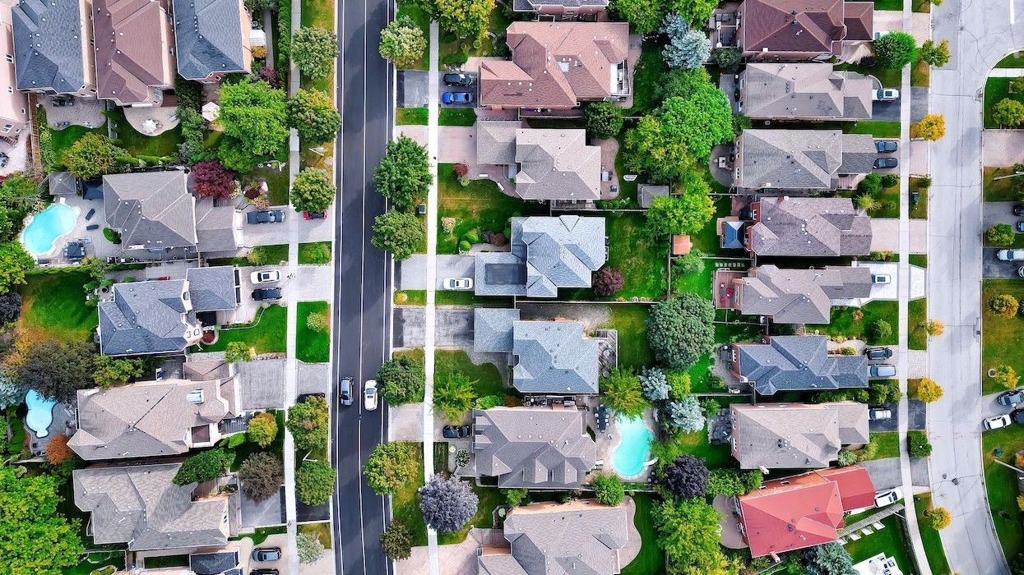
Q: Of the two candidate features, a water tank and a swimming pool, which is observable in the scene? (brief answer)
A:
swimming pool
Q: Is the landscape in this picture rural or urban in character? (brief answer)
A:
urban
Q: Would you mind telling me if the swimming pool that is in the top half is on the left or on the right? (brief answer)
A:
left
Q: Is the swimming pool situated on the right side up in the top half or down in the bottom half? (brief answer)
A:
bottom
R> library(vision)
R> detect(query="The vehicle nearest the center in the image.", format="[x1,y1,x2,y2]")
[444,277,473,291]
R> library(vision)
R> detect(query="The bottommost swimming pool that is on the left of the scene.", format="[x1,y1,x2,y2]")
[24,390,55,438]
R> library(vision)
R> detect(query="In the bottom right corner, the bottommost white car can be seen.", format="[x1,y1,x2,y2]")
[874,488,902,506]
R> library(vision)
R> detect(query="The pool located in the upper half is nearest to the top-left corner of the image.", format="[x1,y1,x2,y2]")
[19,199,80,256]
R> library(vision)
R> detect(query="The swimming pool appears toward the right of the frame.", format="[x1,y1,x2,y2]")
[611,411,655,480]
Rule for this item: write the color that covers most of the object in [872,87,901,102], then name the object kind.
white vehicle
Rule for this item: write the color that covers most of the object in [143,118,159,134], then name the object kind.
white umbrella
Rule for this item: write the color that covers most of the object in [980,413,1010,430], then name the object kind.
white car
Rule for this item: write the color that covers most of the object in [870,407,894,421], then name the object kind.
white car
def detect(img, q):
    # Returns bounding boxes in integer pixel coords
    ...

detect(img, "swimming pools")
[19,199,80,256]
[611,411,655,480]
[24,390,55,438]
